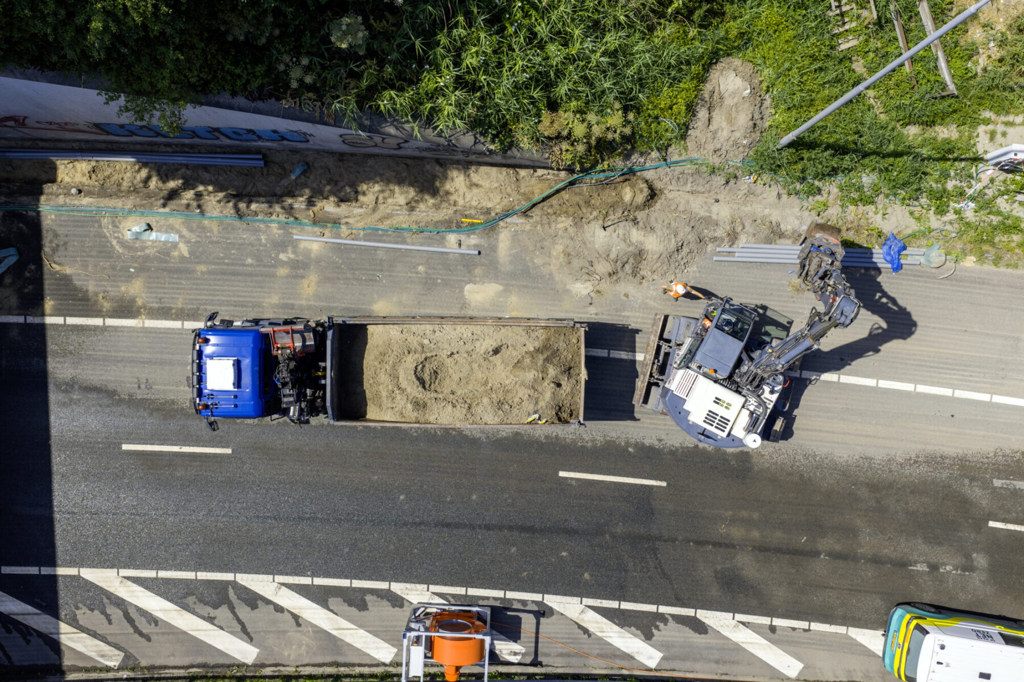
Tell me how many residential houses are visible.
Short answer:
none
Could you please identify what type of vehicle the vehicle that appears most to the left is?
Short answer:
truck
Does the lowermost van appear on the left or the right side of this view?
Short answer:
right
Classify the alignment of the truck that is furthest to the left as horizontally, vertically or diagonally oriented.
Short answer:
horizontally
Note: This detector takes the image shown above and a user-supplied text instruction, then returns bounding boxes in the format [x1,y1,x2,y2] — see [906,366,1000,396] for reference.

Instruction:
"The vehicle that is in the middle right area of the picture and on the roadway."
[630,220,863,450]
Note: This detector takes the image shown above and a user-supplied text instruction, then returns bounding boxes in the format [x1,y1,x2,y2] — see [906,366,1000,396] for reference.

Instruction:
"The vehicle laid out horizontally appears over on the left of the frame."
[190,312,593,431]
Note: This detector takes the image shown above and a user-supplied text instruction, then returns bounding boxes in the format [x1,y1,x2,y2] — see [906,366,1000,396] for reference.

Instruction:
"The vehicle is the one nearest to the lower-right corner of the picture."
[879,605,1024,682]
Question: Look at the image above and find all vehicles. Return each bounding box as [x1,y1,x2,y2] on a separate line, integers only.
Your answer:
[190,312,593,431]
[879,605,1024,682]
[630,220,863,450]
